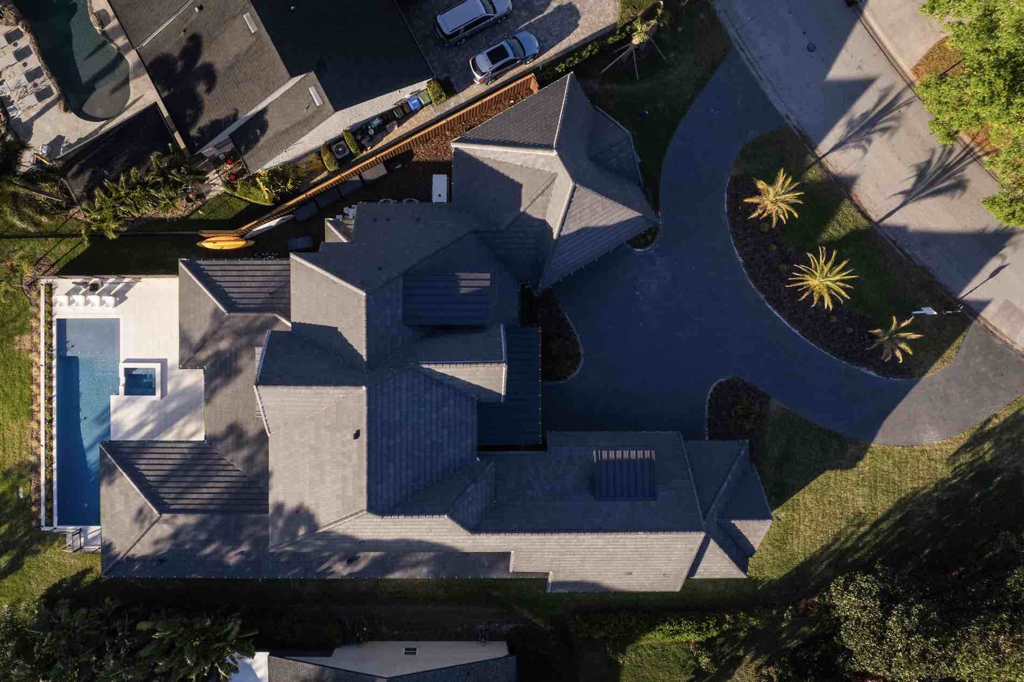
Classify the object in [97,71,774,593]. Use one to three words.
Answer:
house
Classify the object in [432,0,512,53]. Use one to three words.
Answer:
car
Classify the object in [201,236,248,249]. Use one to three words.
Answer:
boat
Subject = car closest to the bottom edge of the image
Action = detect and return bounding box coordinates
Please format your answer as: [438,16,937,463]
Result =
[467,31,539,86]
